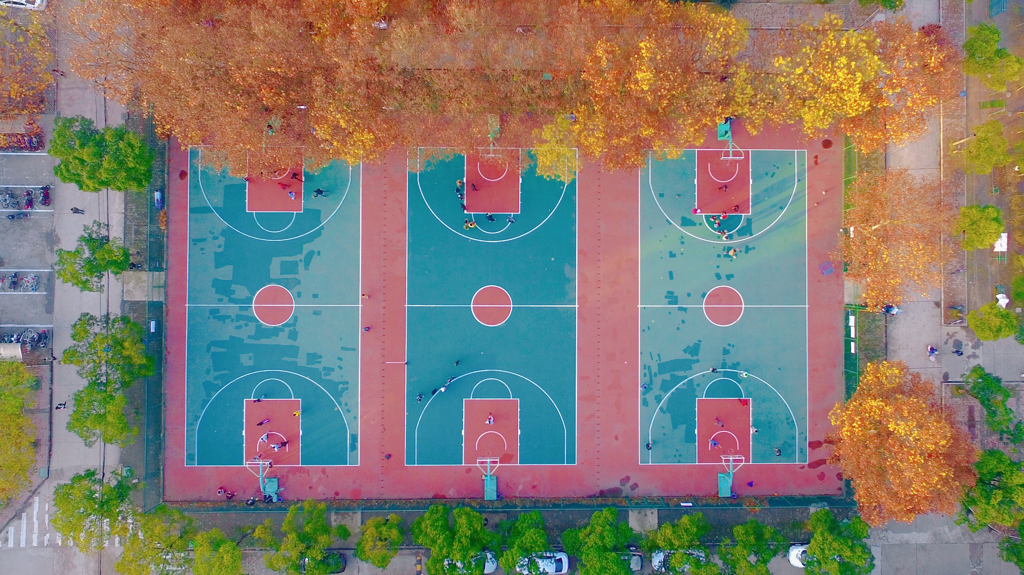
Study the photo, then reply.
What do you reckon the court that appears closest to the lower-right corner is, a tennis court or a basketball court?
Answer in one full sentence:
Specifically, the court that appears closest to the lower-right corner is a basketball court.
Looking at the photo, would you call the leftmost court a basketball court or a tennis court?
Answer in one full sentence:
What you see as the leftmost court is a basketball court.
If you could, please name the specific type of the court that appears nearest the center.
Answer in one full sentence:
The court that appears nearest the center in the image is a basketball court.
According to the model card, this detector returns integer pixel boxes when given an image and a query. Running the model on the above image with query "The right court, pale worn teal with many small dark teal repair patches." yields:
[639,149,809,465]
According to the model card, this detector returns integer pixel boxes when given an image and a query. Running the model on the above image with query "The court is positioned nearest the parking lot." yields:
[185,145,364,466]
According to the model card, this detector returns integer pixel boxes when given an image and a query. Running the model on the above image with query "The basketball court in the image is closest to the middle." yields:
[404,147,579,465]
